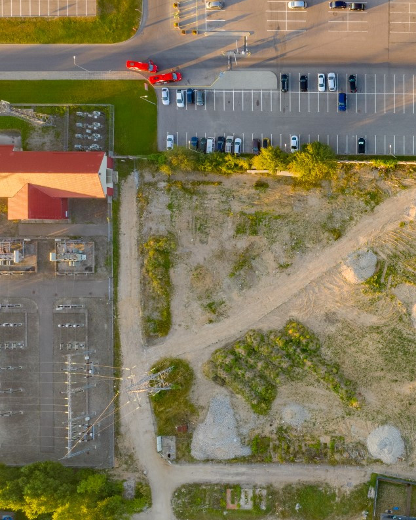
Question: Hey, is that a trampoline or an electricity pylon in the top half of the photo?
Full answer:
There is an electricity pylon in the top half of the photo.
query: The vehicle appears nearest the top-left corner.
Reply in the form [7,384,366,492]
[126,59,155,73]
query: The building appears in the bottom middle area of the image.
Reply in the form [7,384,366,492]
[158,435,179,460]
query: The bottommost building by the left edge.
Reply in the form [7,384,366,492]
[0,143,119,226]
